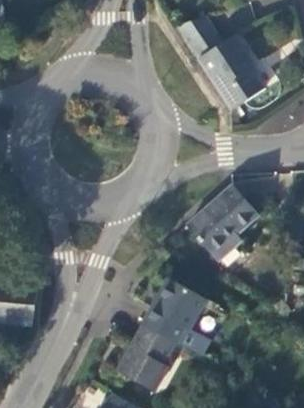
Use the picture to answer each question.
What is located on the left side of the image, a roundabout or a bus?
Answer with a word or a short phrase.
roundabout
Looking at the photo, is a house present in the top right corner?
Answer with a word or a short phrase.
Yes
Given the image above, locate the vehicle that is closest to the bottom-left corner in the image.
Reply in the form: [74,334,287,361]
[76,319,92,342]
